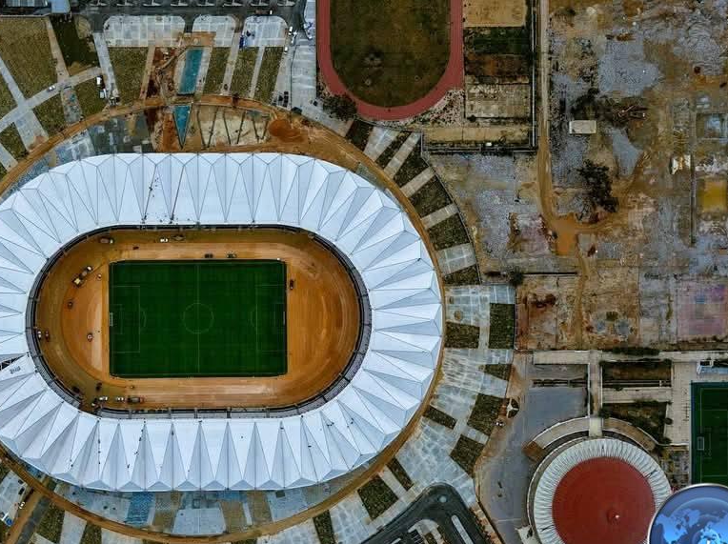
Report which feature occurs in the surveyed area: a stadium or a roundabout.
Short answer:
stadium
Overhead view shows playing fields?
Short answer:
Yes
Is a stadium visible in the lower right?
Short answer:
Yes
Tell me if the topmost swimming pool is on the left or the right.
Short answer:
left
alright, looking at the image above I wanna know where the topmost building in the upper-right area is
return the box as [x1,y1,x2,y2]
[567,120,596,135]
